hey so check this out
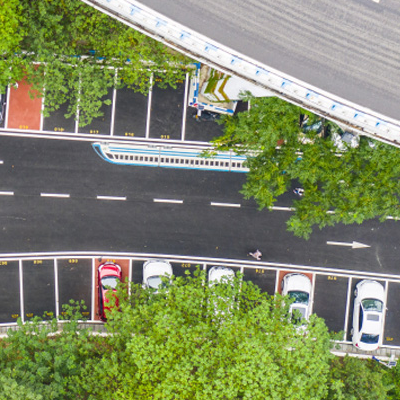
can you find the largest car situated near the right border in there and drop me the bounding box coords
[351,279,390,350]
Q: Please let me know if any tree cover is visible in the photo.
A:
Yes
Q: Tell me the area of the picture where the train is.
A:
center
